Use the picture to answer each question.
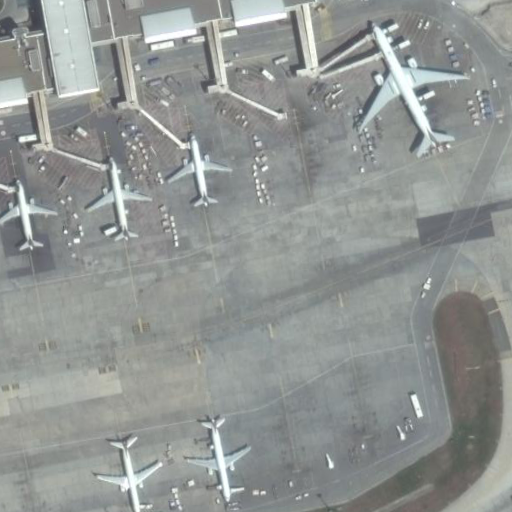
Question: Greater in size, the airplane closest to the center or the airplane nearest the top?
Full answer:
The airplane closest to the center is smaller than the airplane nearest the top.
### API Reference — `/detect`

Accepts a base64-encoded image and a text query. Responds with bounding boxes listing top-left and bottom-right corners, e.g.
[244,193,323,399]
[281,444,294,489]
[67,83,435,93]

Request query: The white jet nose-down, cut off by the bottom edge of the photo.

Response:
[98,436,164,512]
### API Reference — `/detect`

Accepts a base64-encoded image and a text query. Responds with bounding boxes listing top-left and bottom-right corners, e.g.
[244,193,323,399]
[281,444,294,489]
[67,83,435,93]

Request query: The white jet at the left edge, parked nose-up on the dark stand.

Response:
[0,180,57,251]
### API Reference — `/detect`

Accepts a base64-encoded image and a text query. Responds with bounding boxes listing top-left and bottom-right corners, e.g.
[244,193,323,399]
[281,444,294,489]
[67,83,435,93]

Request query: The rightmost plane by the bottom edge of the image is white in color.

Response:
[186,418,252,502]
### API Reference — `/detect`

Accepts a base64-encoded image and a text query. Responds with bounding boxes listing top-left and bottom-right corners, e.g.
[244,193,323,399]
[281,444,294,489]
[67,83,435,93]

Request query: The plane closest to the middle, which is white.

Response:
[168,134,234,206]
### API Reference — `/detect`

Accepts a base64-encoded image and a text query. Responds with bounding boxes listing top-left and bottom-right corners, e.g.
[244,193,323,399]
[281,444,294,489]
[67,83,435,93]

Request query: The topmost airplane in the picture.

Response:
[358,24,468,156]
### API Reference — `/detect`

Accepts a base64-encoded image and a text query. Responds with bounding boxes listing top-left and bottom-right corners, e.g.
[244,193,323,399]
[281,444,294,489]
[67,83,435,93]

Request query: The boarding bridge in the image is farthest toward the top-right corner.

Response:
[296,3,384,78]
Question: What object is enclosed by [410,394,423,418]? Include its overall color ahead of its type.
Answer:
white vehicle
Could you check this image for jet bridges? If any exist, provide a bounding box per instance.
[296,3,384,78]
[0,182,16,194]
[116,38,189,151]
[33,92,108,170]
[206,20,286,120]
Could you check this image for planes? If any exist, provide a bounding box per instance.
[98,436,164,512]
[358,24,468,156]
[186,418,252,502]
[168,134,234,206]
[0,180,57,251]
[87,158,153,240]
